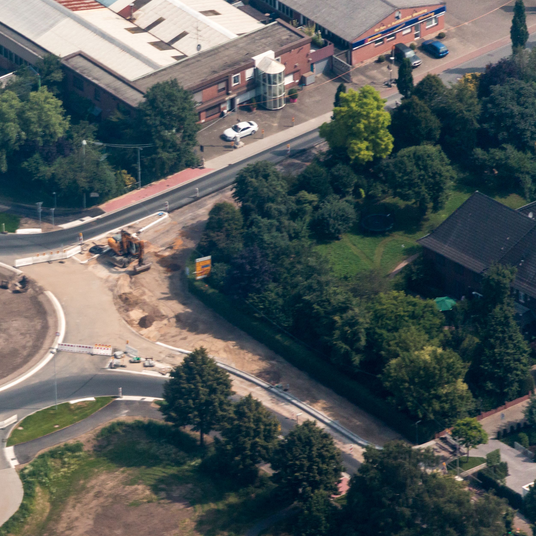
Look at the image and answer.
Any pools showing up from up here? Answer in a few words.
No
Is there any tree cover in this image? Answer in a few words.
Yes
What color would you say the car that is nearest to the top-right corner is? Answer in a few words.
blue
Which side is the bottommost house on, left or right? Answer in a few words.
right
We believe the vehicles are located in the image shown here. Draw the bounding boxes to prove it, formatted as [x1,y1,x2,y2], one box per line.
[419,38,452,58]
[392,35,428,62]
[221,119,260,140]
[102,233,153,273]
